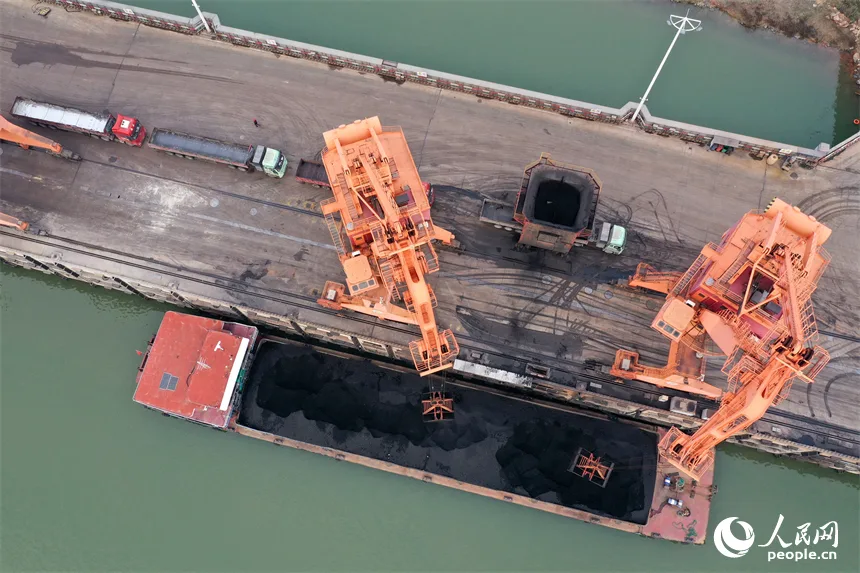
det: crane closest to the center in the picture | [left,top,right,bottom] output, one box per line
[316,113,472,376]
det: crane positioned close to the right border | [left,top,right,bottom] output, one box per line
[591,198,831,483]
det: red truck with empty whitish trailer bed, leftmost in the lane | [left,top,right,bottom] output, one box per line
[10,93,152,147]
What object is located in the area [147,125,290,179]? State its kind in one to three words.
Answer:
truck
